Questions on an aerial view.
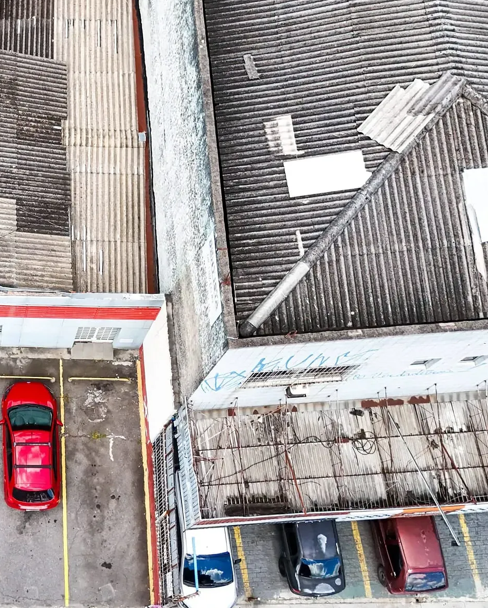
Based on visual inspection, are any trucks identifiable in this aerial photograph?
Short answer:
No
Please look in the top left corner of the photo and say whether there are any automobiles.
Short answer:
No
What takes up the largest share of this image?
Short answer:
buildings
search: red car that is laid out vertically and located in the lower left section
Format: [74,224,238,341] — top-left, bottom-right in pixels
[0,382,63,513]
